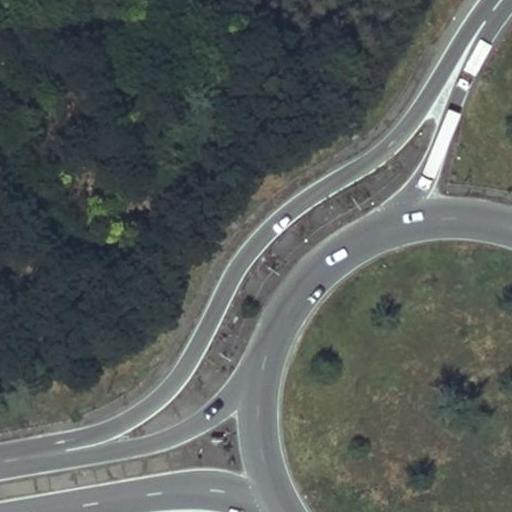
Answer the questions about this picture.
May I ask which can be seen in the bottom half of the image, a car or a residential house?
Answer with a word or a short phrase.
car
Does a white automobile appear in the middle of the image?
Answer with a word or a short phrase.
Yes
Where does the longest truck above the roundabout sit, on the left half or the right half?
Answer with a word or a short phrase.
right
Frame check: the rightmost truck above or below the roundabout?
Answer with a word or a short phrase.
above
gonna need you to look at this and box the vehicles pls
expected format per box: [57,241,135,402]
[324,248,349,266]
[455,39,492,92]
[202,399,224,418]
[274,216,292,234]
[416,104,462,192]
[307,284,325,305]
[402,212,424,223]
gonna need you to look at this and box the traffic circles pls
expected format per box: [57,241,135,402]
[225,196,512,512]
